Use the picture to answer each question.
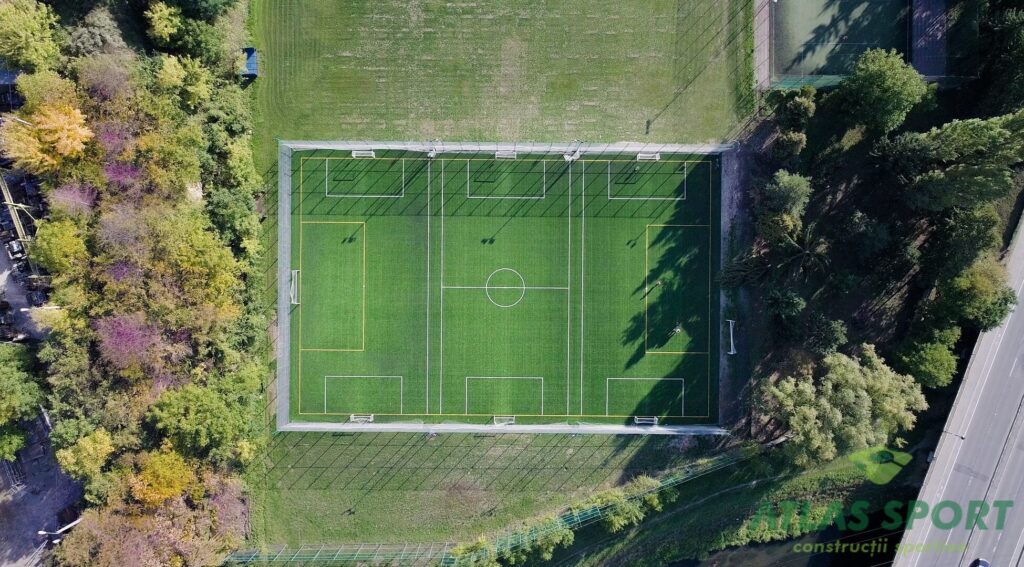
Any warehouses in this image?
No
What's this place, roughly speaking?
sports ground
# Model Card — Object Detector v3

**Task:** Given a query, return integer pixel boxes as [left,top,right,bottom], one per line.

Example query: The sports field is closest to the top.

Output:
[256,0,744,139]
